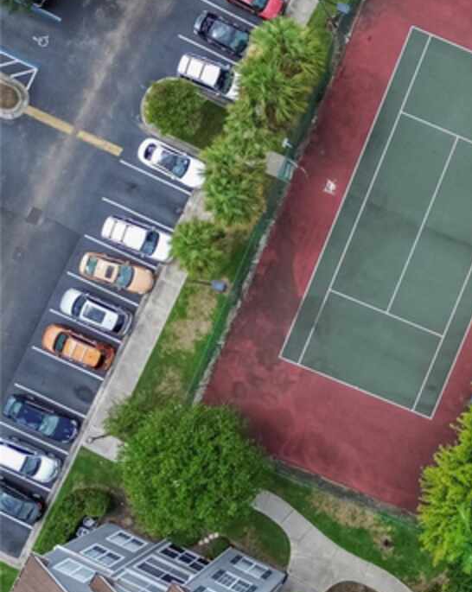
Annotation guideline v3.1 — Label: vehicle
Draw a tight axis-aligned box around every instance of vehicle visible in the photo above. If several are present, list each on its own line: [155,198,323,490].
[99,212,176,264]
[60,287,135,338]
[0,476,44,523]
[0,431,60,482]
[188,10,256,59]
[135,137,211,188]
[225,0,291,21]
[171,49,241,102]
[43,323,119,374]
[79,247,156,297]
[4,392,81,442]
